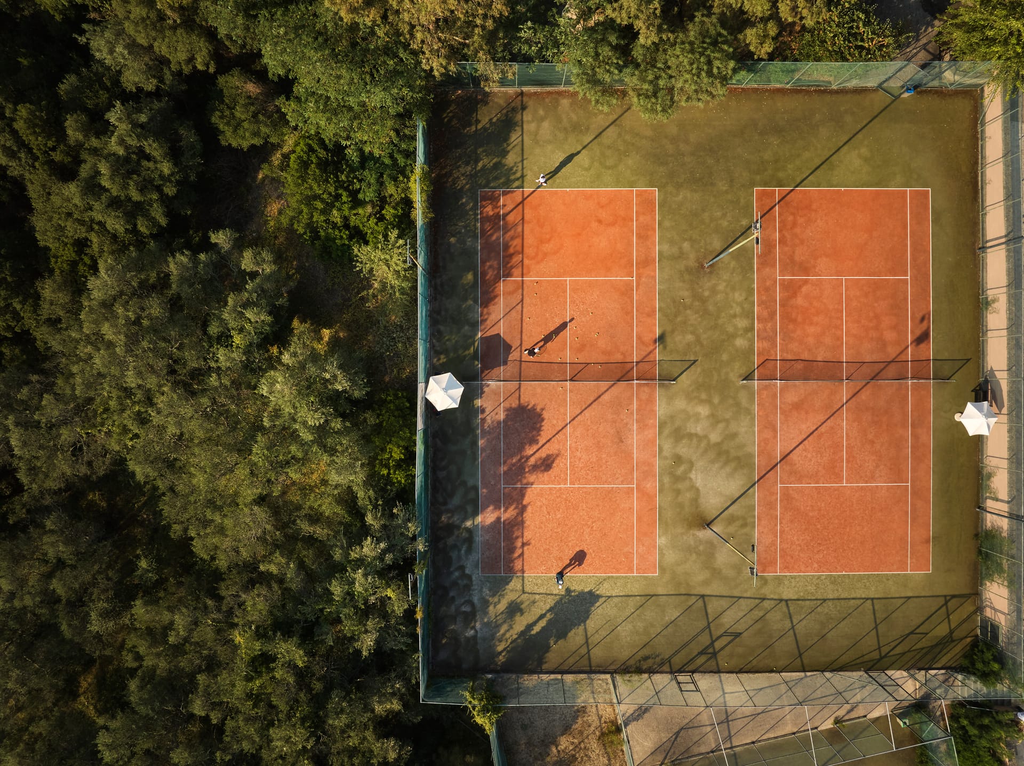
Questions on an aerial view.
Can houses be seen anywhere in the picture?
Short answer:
No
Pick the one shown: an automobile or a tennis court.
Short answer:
tennis court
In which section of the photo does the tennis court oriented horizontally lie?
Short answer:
bottom right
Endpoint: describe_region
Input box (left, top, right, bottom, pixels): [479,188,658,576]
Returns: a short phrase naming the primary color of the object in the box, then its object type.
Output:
orange tennis court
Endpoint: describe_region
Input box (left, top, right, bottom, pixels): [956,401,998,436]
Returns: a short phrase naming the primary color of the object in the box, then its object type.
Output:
white umbrella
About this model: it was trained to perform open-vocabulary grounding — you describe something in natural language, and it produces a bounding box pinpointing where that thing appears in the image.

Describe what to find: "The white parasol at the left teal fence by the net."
[425,373,464,411]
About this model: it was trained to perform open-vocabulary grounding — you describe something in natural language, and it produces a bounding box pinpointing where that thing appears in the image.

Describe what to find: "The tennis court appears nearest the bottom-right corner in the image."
[673,705,935,766]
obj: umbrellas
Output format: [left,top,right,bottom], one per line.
[425,373,464,411]
[956,401,998,436]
